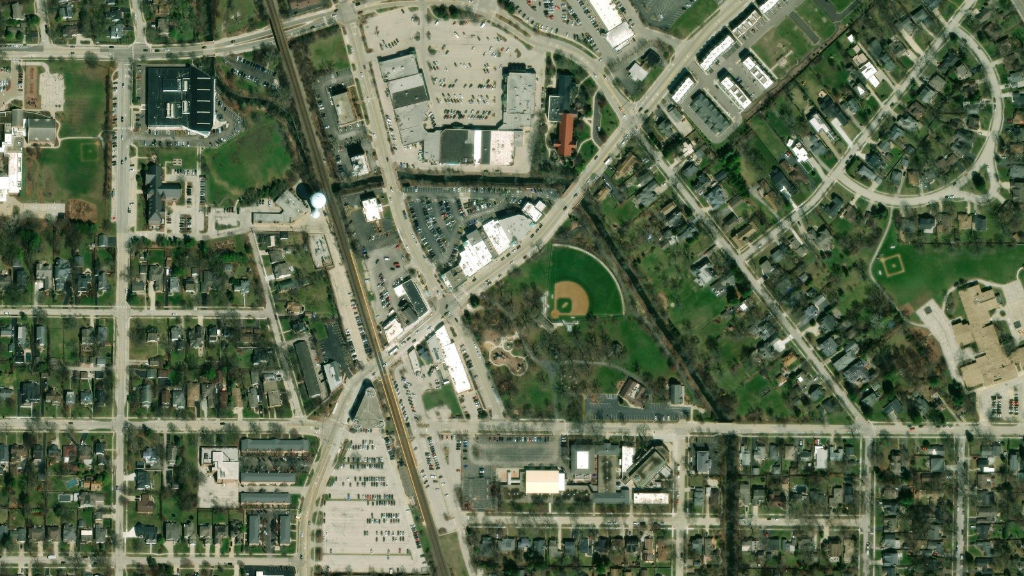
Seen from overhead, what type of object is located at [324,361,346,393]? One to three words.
building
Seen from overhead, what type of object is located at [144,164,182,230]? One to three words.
building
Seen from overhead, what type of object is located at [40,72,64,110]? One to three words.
sports court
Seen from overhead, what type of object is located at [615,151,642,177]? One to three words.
house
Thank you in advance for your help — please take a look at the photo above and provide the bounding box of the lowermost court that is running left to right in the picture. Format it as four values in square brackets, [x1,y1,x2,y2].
[0,195,65,219]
